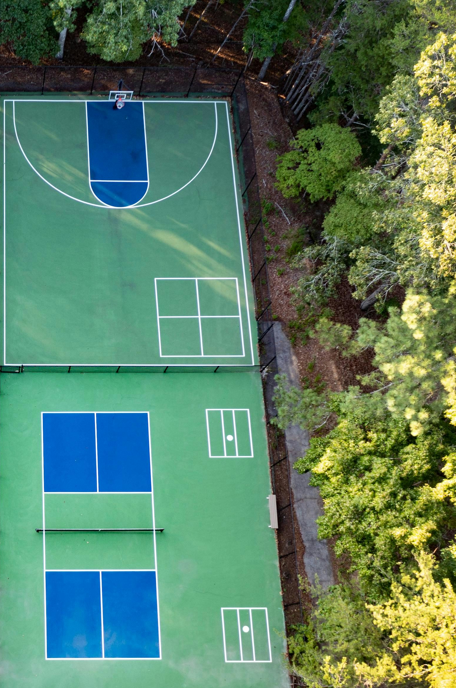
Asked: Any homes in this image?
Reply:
No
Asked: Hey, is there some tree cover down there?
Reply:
Yes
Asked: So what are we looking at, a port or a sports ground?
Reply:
sports ground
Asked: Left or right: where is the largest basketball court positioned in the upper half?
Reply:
left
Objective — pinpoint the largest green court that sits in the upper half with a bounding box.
[3,100,254,365]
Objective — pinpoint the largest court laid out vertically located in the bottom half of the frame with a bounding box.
[42,412,162,658]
